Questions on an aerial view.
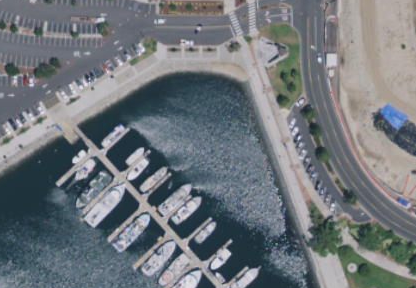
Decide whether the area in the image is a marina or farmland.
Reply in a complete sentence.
The picture captures a marina.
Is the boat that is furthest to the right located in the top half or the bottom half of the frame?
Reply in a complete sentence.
You can find the boat that is furthest to the right in the bottom half.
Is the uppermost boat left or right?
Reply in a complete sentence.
The uppermost boat is on the left side of the image.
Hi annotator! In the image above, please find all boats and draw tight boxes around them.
[174,271,203,288]
[139,168,167,194]
[193,222,218,244]
[100,126,125,148]
[171,198,201,226]
[125,146,144,165]
[216,274,226,284]
[140,242,180,277]
[78,148,88,157]
[74,160,94,182]
[126,158,150,179]
[112,216,151,253]
[230,266,260,288]
[156,251,192,284]
[82,184,130,227]
[157,184,192,216]
[76,169,116,208]
[210,248,234,270]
